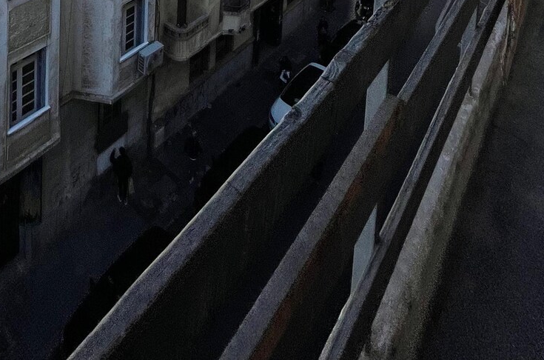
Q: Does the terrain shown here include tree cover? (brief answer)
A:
No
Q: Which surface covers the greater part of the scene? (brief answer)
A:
buildings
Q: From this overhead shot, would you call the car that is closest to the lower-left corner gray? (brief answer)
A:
No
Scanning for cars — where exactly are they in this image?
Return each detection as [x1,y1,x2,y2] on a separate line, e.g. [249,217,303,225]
[257,52,358,141]
[3,284,120,360]
[318,1,372,60]
[120,140,278,340]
